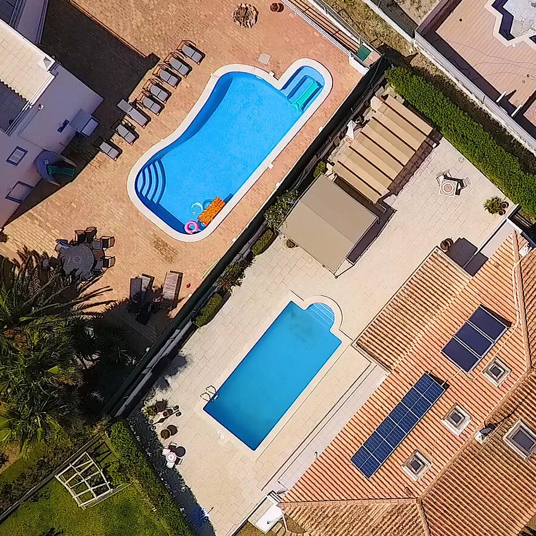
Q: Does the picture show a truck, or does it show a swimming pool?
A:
swimming pool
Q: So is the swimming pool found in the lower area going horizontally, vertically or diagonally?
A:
diagonally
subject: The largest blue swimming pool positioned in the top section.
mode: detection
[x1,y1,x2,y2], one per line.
[128,58,332,241]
